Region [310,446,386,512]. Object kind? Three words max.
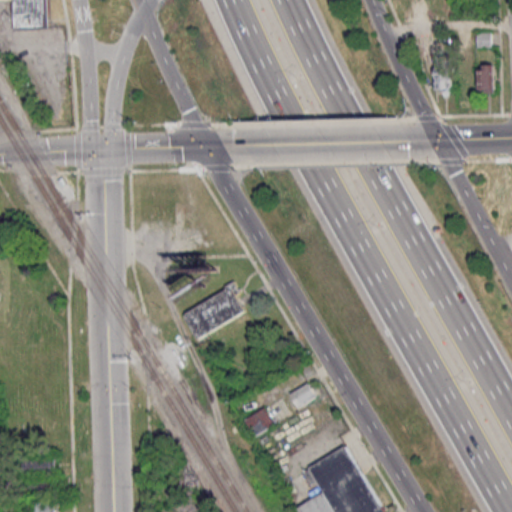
building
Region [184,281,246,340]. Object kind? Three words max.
building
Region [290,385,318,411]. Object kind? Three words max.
shed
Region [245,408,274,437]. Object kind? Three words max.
house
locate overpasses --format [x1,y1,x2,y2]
[204,116,442,168]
